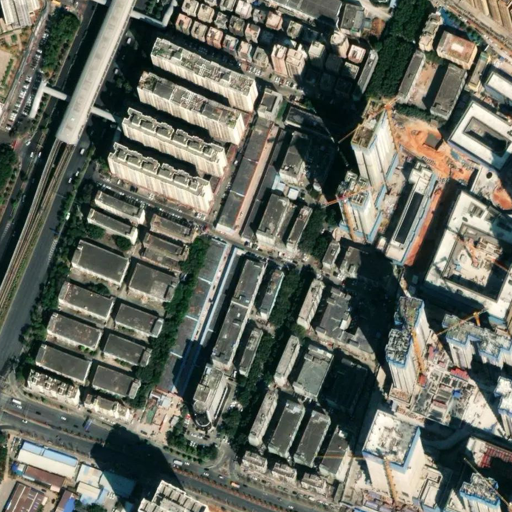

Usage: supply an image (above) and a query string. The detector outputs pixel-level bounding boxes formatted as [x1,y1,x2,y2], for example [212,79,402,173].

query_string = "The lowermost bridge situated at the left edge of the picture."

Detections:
[0,140,75,314]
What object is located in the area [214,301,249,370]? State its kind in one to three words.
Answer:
building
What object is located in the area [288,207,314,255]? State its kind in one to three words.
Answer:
building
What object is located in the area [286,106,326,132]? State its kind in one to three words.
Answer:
shed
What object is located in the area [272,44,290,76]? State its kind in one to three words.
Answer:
house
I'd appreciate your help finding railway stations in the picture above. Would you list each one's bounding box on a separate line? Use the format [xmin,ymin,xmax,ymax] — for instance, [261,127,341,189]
[56,0,140,146]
